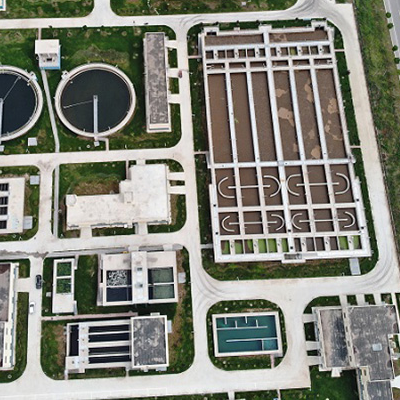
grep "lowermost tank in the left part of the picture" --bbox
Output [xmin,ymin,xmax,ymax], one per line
[66,320,133,378]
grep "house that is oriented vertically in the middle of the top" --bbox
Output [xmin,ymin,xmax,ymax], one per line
[144,32,172,133]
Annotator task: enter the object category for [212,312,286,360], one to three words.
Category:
water tank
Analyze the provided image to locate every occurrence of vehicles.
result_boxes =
[35,274,42,289]
[29,301,36,316]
